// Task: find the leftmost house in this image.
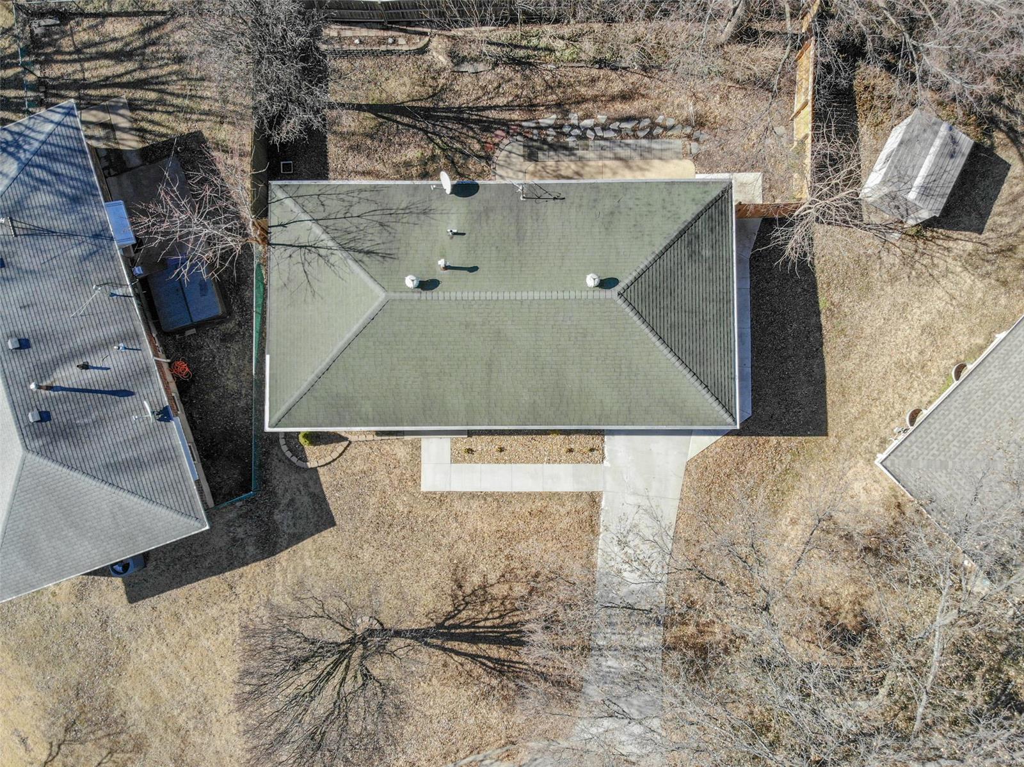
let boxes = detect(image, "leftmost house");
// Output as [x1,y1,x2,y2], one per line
[0,99,221,603]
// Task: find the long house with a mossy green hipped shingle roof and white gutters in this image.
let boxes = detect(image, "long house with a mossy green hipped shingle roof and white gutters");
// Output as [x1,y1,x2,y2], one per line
[263,177,741,433]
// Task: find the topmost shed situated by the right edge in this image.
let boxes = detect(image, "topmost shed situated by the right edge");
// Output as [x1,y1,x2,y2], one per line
[861,104,976,219]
